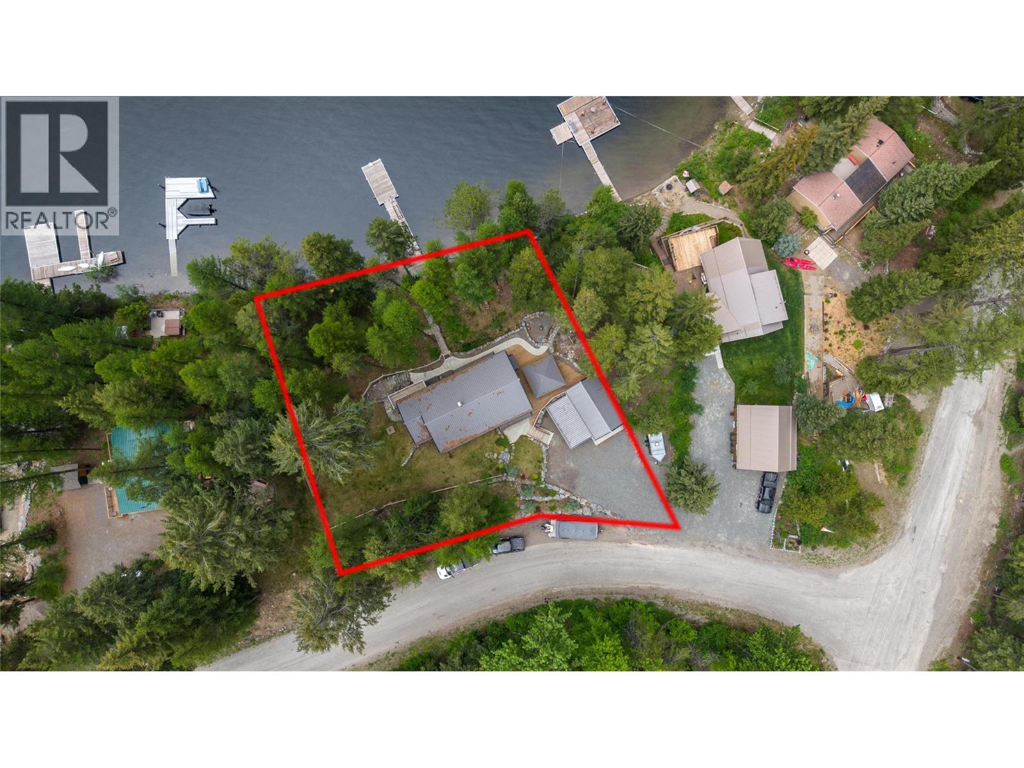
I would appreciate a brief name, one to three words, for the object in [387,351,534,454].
house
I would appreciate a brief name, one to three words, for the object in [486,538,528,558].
vehicle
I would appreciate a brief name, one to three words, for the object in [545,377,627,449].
building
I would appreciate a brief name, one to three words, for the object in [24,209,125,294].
pier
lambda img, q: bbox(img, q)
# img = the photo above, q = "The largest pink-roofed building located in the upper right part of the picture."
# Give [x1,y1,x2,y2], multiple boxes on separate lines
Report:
[787,127,919,248]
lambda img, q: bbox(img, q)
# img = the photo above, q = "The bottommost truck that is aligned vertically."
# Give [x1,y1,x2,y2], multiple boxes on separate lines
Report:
[759,471,781,516]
